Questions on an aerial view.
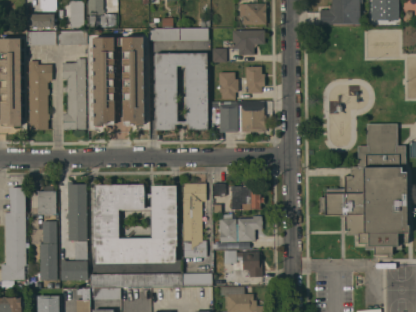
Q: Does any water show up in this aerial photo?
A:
No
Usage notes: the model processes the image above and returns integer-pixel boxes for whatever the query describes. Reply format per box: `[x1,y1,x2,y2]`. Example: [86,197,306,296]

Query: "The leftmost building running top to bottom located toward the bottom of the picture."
[5,187,26,282]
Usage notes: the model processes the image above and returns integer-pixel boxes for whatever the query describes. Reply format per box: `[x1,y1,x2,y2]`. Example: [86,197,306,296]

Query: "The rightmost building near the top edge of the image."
[374,0,401,26]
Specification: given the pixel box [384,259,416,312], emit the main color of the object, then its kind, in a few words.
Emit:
gray basketball court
